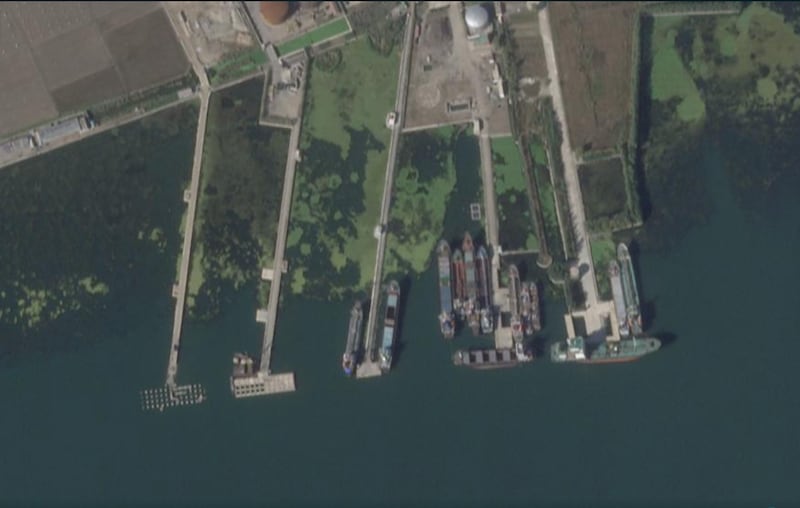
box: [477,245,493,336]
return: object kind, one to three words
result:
ship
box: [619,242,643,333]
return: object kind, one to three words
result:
ship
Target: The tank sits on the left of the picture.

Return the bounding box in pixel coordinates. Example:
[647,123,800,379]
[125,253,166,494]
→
[259,0,290,28]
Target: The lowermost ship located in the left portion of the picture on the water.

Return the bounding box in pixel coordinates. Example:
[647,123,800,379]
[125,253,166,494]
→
[234,351,253,377]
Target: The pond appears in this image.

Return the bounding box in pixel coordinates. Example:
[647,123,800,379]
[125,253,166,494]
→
[579,157,628,221]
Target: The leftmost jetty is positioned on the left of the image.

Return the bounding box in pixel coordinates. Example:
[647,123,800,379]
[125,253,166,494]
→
[168,90,209,386]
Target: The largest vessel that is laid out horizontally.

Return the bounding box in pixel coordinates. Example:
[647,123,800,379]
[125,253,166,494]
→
[549,332,662,361]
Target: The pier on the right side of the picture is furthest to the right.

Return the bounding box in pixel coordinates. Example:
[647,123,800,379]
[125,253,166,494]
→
[565,300,619,338]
